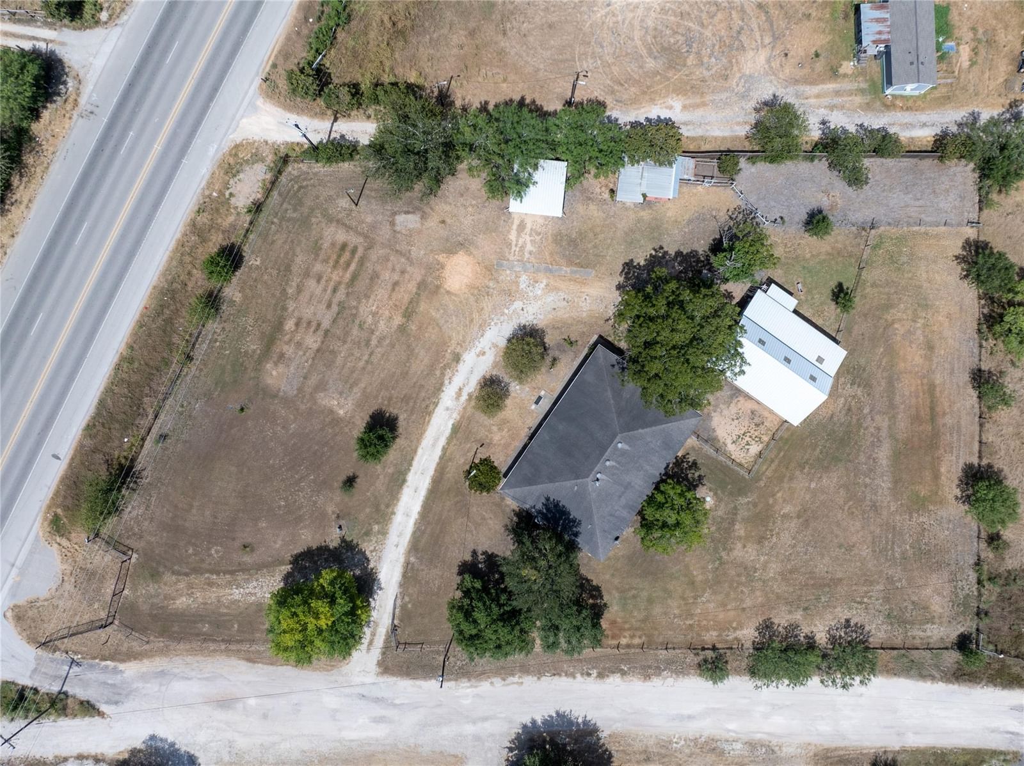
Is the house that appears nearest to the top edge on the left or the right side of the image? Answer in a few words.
right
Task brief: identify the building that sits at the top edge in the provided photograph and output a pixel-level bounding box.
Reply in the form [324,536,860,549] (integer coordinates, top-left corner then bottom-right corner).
[851,0,937,98]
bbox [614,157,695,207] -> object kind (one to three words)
shed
